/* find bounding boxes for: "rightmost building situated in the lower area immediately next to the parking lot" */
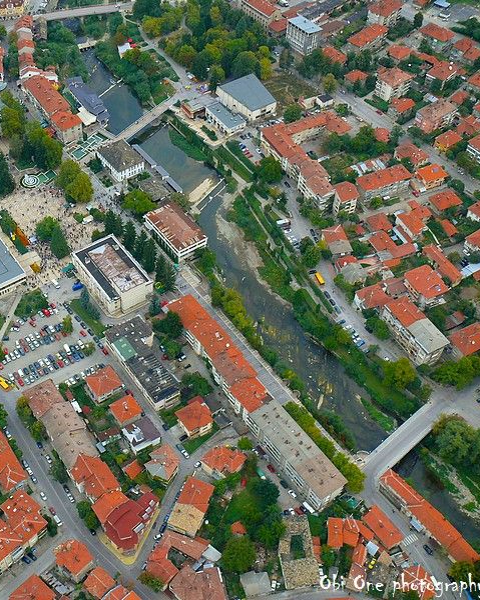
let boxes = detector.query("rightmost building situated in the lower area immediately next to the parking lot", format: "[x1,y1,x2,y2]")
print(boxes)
[168,294,348,512]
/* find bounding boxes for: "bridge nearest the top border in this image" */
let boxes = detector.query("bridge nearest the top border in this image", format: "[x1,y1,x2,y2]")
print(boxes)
[27,1,137,24]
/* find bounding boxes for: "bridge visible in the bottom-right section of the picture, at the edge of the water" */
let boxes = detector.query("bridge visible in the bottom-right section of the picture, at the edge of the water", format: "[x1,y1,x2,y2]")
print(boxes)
[361,398,449,479]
